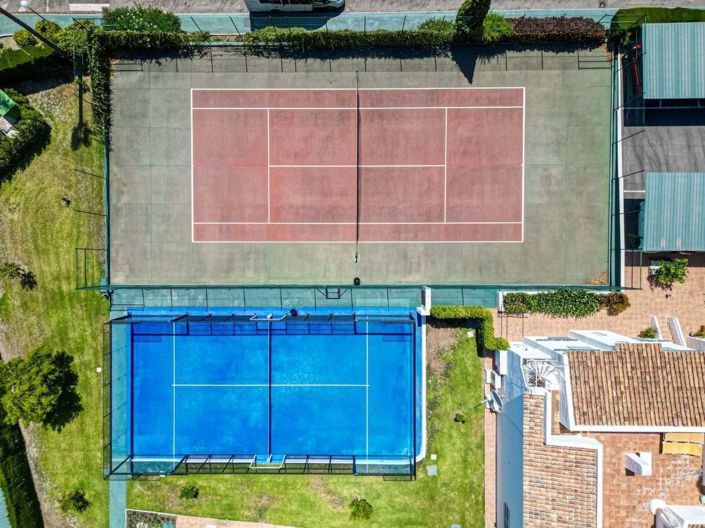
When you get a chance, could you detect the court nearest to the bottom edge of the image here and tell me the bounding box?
[126,308,426,465]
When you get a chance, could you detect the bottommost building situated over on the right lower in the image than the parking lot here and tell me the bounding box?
[496,331,705,528]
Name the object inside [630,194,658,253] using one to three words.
car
